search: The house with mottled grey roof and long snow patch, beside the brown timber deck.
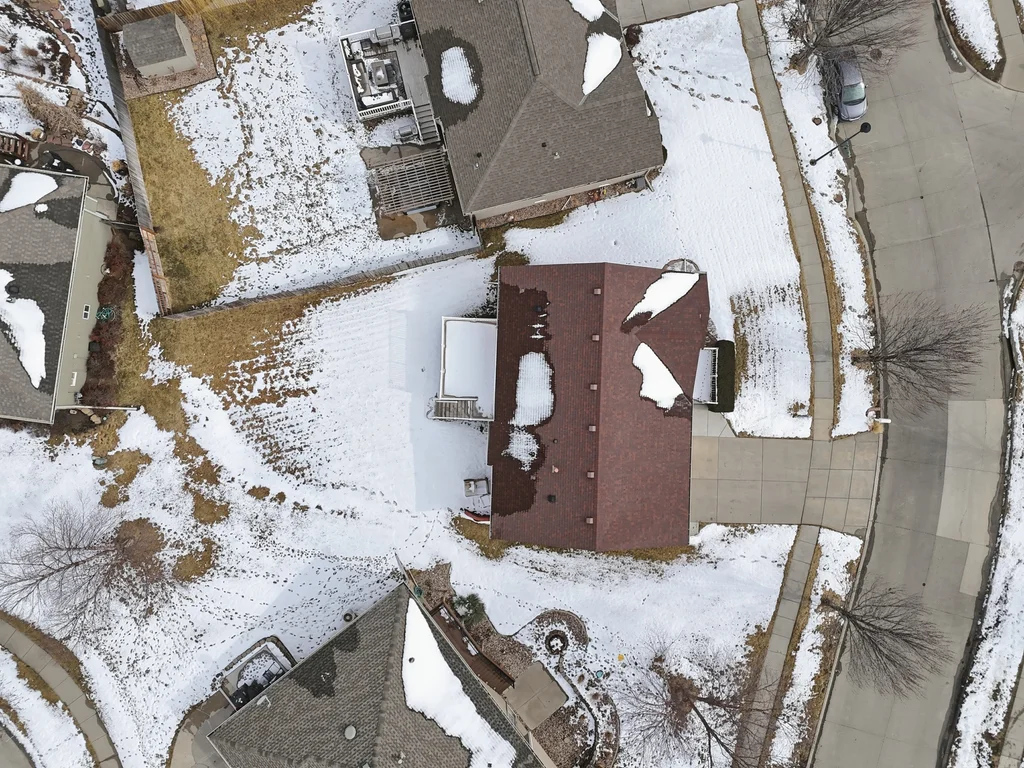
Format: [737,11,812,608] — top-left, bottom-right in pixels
[207,578,564,768]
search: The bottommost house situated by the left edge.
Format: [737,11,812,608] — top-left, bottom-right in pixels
[0,158,114,425]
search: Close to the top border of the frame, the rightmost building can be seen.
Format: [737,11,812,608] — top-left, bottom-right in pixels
[410,0,664,220]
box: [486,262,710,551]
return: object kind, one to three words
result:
house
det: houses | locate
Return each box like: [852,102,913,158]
[207,578,564,768]
[410,0,664,220]
[486,262,710,551]
[0,158,114,425]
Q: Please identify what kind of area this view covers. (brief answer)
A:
residential area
